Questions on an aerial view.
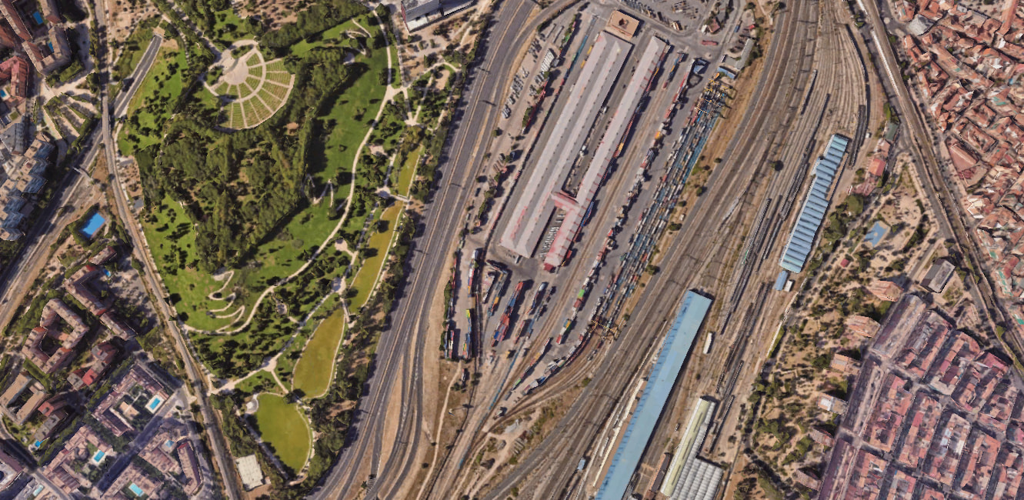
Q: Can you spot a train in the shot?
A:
Yes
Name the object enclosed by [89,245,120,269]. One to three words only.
building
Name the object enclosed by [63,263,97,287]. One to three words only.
building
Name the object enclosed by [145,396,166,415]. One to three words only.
swimming pool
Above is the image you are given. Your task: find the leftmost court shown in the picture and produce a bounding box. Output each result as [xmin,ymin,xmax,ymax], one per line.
[235,454,263,491]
